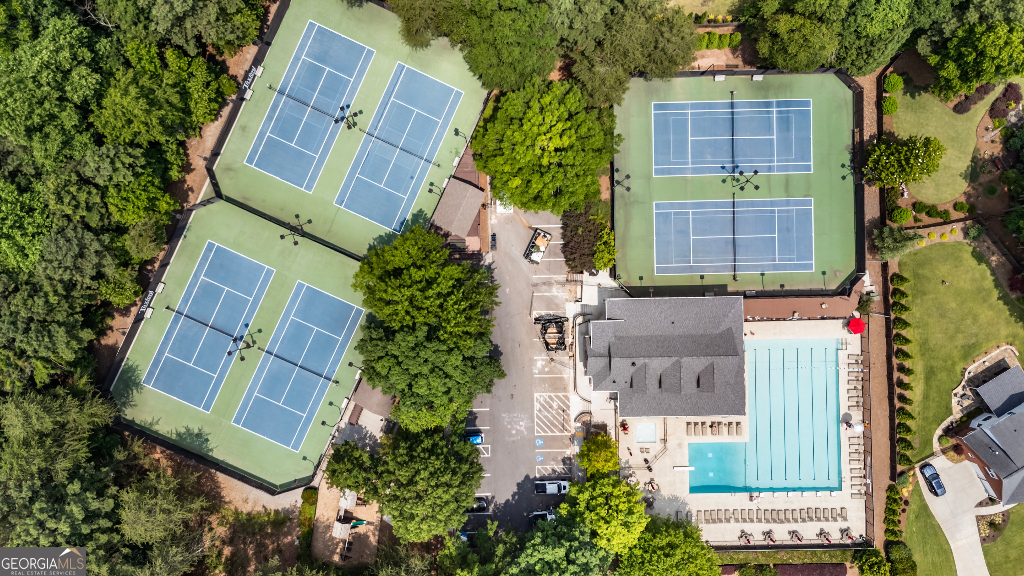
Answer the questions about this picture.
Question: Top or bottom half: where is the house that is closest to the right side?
bottom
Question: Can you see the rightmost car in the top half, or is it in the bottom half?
bottom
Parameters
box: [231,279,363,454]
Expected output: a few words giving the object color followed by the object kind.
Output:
blue tennis court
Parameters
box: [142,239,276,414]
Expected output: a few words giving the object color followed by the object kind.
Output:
blue tennis court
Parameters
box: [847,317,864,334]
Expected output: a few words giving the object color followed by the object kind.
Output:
red umbrella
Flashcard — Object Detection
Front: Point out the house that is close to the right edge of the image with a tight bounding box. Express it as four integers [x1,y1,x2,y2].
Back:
[950,364,1024,514]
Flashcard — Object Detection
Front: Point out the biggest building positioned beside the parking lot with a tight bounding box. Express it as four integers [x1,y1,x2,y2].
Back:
[584,296,747,418]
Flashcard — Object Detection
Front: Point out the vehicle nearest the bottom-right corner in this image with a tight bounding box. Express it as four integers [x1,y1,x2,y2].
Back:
[922,464,949,499]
